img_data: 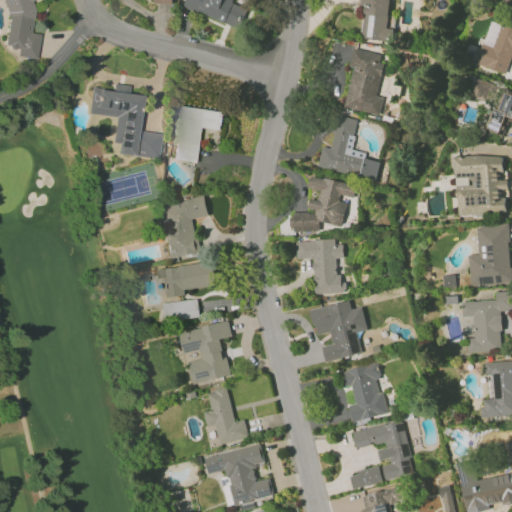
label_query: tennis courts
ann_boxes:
[97,162,162,211]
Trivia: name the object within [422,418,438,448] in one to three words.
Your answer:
swimming pool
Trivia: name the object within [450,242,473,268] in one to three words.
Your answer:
swimming pool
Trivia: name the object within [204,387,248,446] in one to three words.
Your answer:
house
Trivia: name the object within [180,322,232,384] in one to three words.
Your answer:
house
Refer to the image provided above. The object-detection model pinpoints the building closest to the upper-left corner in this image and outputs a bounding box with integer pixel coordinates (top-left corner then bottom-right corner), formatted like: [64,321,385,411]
[4,0,43,58]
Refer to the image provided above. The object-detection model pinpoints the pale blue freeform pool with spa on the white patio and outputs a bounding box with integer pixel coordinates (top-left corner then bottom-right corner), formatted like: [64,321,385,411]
[452,428,470,458]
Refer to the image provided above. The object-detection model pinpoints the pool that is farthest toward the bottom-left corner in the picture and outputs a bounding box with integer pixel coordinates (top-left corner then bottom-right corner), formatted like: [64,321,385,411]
[169,467,192,486]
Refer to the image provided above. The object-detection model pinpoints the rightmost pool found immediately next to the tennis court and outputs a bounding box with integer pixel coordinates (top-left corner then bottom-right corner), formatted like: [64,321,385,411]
[166,160,192,187]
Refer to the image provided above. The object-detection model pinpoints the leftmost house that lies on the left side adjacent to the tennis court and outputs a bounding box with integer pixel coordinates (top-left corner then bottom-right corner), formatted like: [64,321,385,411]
[92,82,164,158]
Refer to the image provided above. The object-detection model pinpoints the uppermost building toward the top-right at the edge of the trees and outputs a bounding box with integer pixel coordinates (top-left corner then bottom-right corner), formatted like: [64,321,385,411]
[362,0,392,46]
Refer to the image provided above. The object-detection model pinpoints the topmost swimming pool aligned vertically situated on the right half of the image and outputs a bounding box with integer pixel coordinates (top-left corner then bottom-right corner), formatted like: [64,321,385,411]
[402,0,414,26]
